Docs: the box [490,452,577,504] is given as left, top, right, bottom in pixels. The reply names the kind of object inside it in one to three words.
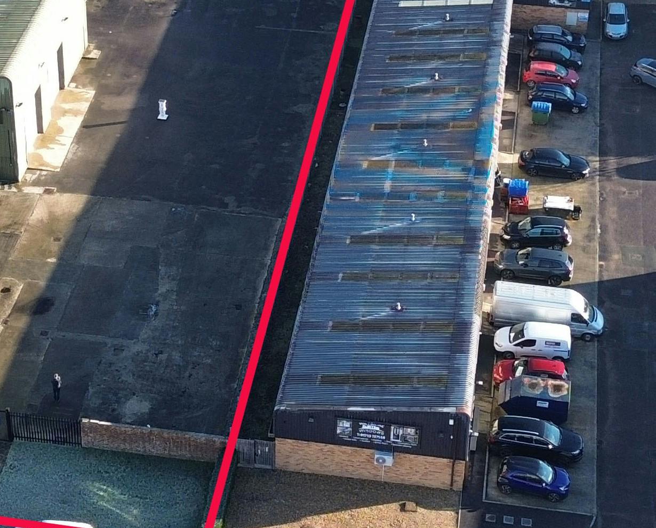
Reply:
car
